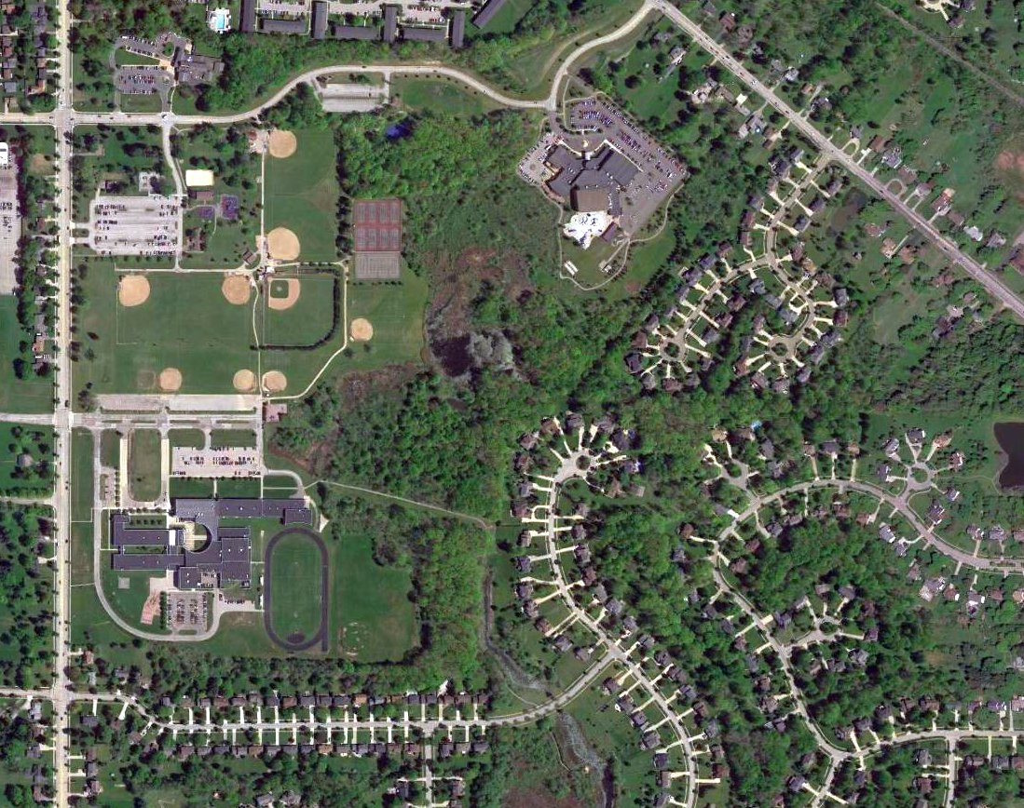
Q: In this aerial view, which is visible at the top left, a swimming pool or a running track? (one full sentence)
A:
The feature located at the top left is a swimming pool.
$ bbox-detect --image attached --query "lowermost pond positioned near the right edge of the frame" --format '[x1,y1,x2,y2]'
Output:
[993,420,1024,489]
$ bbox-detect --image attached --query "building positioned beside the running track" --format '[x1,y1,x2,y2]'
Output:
[113,500,312,589]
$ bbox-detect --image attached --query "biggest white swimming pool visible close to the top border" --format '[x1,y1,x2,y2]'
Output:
[209,8,231,32]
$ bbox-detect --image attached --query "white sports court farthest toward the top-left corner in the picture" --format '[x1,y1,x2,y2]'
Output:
[186,170,214,186]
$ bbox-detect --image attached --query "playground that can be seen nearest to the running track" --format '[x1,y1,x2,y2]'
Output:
[141,591,166,625]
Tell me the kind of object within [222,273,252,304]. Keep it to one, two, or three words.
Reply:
baseball field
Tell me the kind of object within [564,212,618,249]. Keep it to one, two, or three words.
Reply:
swimming pool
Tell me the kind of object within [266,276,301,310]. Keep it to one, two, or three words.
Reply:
baseball field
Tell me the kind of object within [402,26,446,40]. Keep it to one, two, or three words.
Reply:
building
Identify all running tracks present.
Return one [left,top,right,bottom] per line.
[264,527,329,652]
